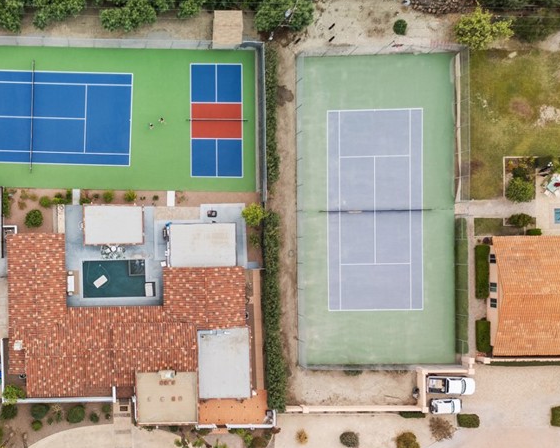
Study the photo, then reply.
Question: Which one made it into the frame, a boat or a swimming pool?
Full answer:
The image shows a swimming pool.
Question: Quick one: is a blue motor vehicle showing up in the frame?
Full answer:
No, I can't see a single blue motor vehicle in this photo.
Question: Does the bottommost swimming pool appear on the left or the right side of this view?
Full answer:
You can find the bottommost swimming pool on the left side of the picture.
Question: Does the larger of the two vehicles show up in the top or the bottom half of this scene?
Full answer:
The larger of the two vehicles sits in the bottom half of the picture.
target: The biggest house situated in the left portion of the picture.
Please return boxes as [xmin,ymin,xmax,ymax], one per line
[7,224,252,424]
